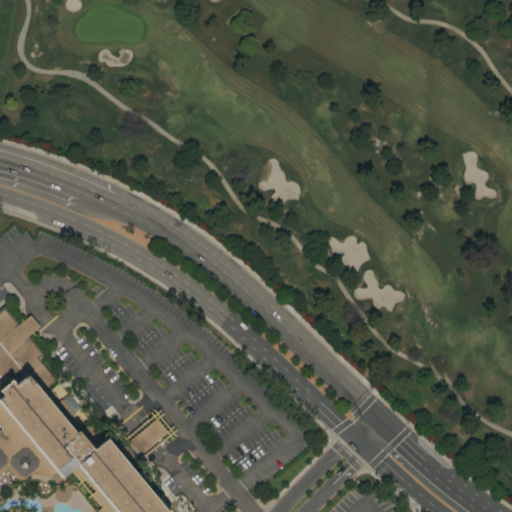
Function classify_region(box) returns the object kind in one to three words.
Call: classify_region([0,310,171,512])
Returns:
building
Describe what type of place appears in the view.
golf course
